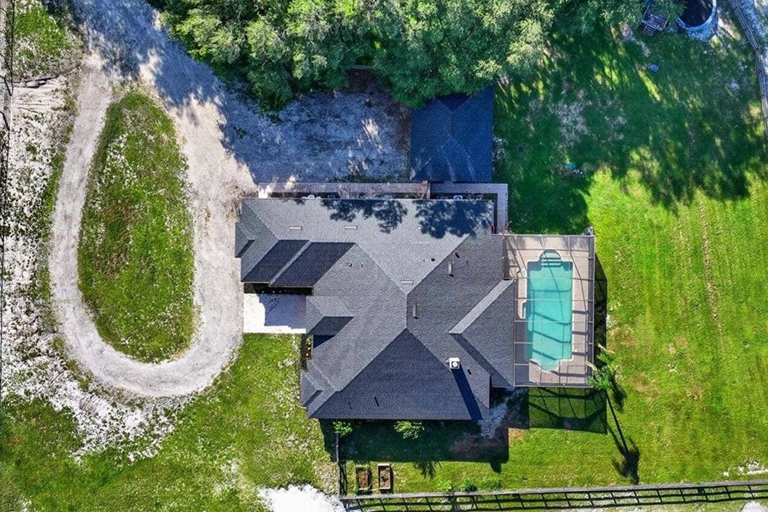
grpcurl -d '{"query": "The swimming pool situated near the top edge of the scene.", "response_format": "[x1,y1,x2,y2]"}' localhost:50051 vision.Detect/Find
[672,0,717,33]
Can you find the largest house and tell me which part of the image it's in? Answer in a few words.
center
